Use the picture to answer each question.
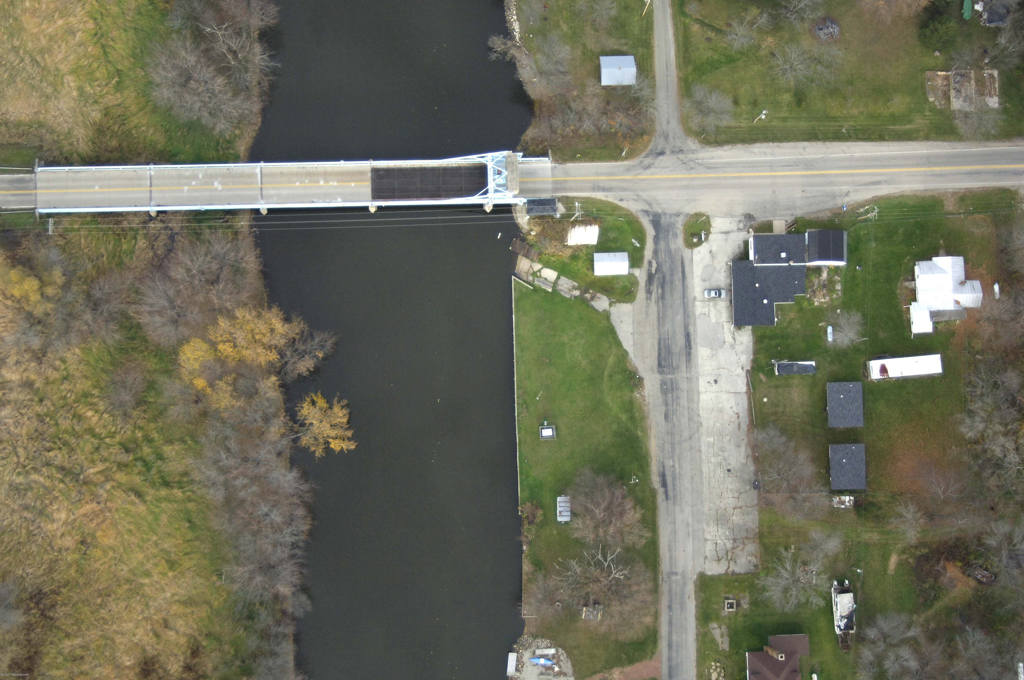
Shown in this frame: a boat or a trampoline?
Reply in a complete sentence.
Of the two, only a boat appears.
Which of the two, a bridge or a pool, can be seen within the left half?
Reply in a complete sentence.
What appears within the left half is a bridge.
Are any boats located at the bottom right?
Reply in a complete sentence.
Yes, a boat is visible at the bottom right.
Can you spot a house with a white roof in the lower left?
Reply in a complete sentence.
No, in the lower left there is no house with a white roof.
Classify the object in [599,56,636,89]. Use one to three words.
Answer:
shed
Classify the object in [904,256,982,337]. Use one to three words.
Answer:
house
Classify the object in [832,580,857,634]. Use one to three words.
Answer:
boat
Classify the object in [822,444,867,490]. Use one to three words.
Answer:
building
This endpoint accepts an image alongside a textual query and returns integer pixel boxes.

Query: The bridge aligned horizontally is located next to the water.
[32,143,553,234]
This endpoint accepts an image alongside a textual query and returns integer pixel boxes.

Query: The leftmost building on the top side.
[526,199,556,217]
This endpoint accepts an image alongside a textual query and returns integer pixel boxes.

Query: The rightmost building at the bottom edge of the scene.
[744,632,809,680]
